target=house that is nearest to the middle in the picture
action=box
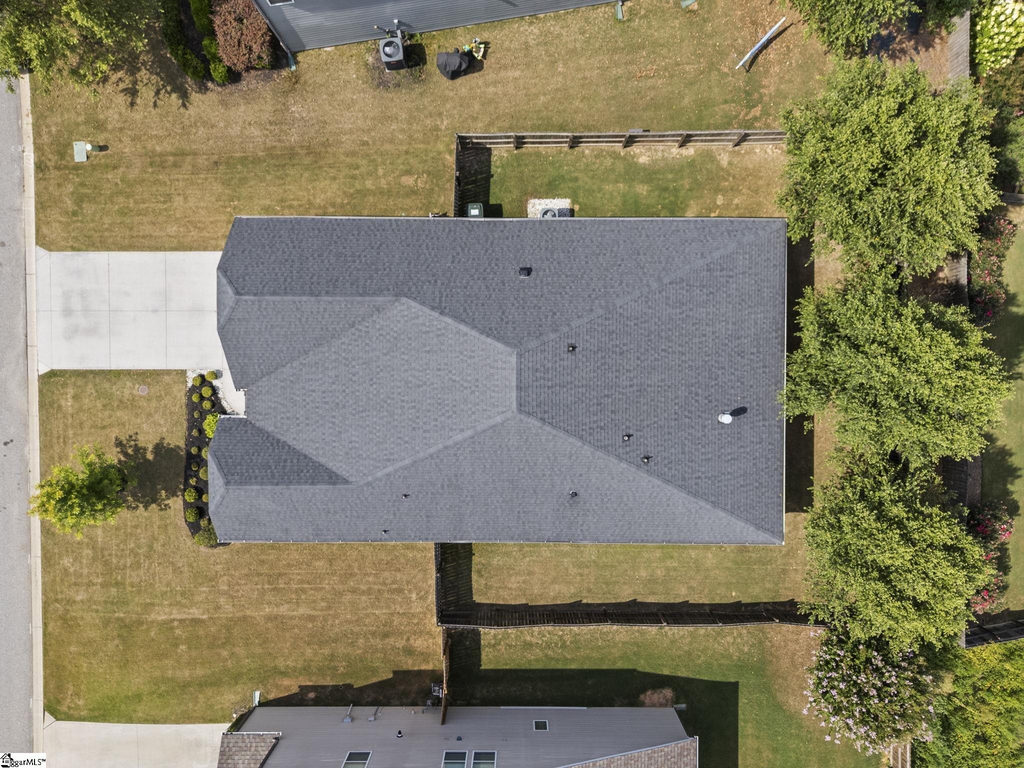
[207,217,786,544]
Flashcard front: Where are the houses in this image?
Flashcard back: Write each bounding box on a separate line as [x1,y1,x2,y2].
[207,217,786,544]
[211,705,699,768]
[258,0,627,53]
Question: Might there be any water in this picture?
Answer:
No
